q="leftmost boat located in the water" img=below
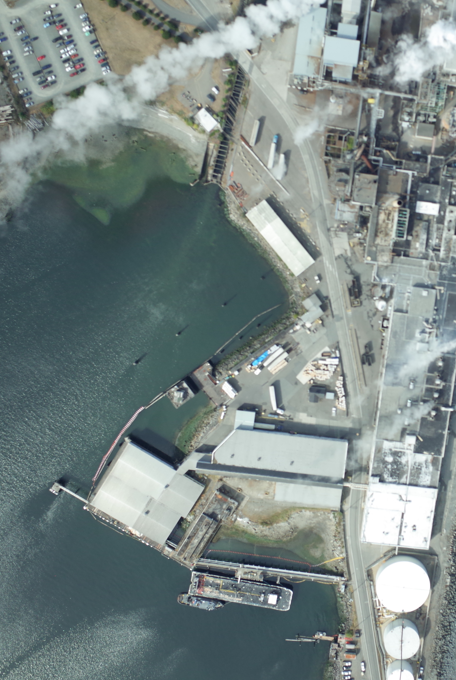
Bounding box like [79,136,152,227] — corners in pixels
[176,592,225,611]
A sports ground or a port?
port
